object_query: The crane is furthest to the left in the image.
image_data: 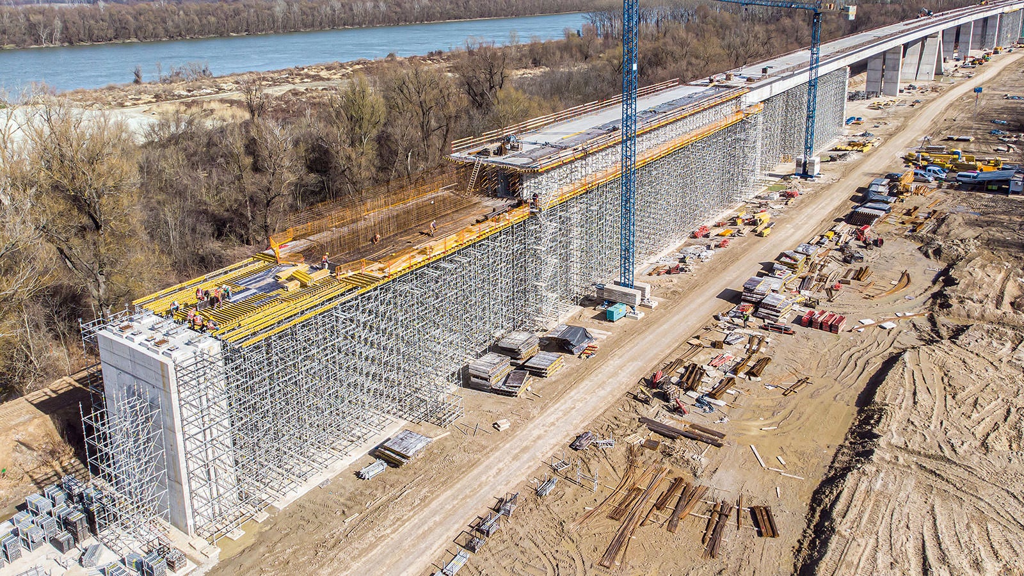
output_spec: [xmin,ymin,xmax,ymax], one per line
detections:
[591,0,660,317]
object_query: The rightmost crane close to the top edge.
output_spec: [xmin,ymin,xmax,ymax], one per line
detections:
[710,0,859,178]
